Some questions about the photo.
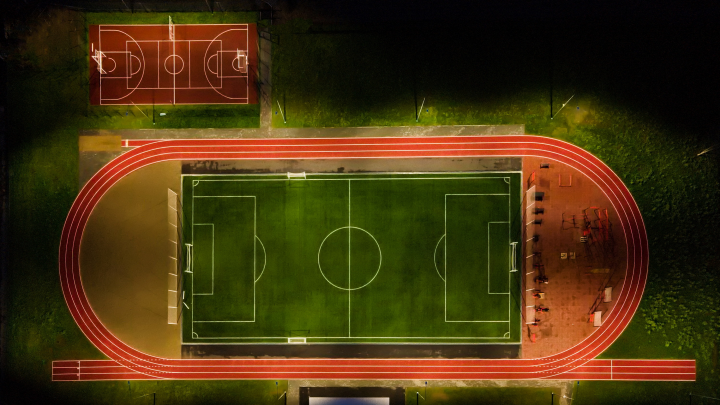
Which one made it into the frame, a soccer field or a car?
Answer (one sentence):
The one in the frame is a soccer field.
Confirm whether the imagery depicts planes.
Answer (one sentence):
No, the scene contains no plane.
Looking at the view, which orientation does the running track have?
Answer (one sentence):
The running track is oriented horizontally.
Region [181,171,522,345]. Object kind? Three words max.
soccer field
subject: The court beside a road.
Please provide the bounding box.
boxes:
[89,23,258,105]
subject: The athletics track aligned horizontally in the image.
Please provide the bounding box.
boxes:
[52,133,696,382]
